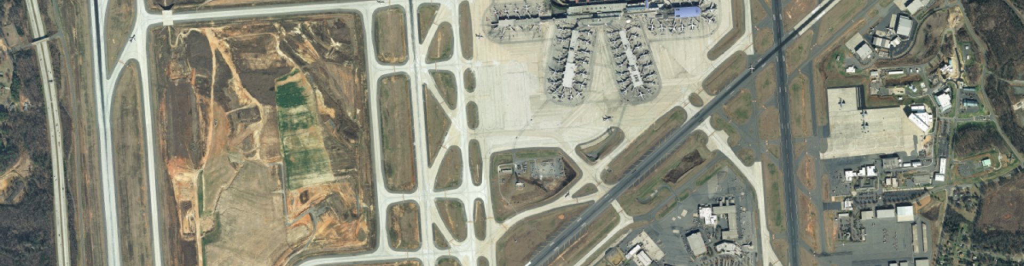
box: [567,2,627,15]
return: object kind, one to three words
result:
building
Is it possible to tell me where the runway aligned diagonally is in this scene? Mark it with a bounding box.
[524,0,843,266]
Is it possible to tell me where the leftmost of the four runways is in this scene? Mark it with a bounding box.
[90,0,120,266]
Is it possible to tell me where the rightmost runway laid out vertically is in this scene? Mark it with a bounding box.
[770,0,800,266]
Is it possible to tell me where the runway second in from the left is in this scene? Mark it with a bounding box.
[405,0,433,266]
